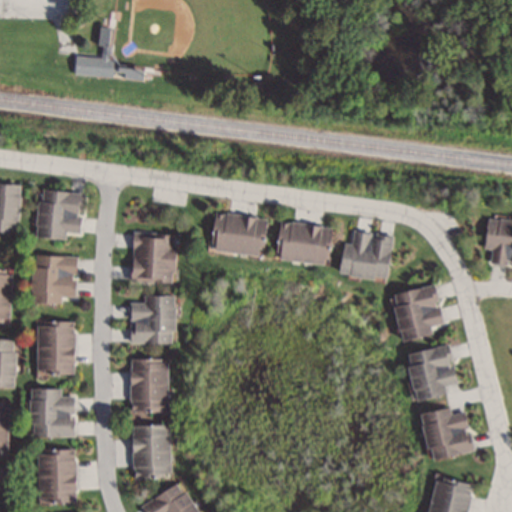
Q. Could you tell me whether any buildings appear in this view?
Yes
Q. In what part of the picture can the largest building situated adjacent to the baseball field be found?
top left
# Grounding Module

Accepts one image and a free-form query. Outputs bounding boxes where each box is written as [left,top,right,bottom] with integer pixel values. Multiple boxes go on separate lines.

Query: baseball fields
[117,0,270,78]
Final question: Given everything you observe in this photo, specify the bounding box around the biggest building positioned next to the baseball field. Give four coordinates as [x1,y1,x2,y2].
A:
[76,27,119,78]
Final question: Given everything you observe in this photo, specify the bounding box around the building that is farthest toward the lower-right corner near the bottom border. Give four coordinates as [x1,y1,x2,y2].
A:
[432,476,472,512]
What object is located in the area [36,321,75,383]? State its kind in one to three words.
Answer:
house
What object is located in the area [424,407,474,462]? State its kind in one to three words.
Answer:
house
